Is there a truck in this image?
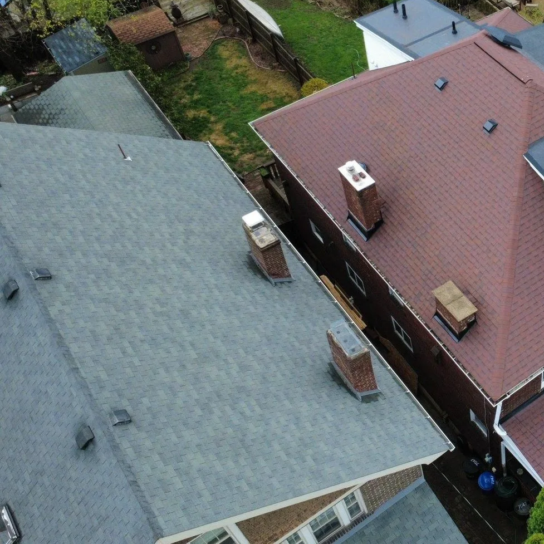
No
